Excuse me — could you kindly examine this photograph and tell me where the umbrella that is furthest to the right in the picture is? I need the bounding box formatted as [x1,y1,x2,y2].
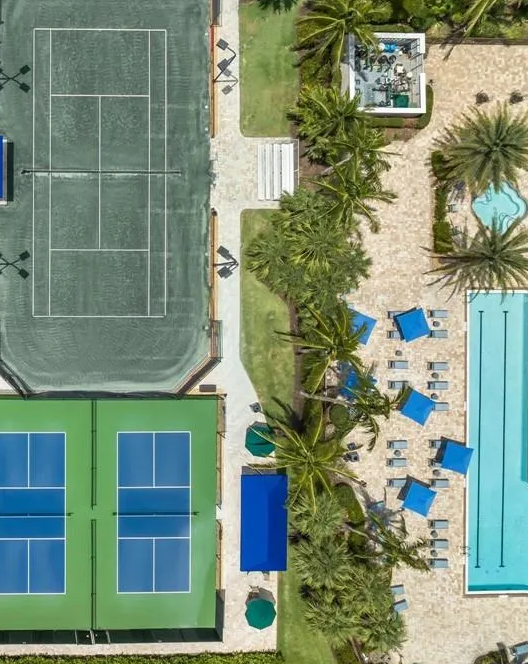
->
[436,438,475,475]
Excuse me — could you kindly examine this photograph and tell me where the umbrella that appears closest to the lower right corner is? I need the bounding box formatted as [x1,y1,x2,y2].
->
[399,479,438,518]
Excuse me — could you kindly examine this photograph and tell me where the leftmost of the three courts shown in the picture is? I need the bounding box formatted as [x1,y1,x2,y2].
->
[0,397,92,630]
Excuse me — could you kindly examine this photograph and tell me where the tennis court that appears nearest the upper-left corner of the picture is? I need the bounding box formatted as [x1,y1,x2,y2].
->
[0,0,216,392]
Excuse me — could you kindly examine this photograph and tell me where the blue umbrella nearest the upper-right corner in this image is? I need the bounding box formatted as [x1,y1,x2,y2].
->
[393,307,430,343]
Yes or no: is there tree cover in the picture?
Yes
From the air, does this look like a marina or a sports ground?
sports ground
